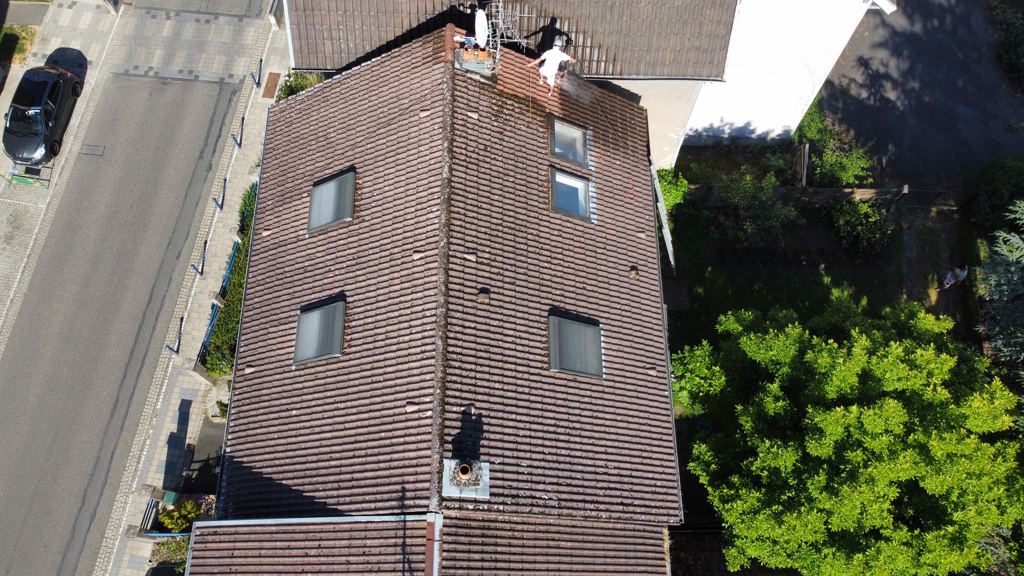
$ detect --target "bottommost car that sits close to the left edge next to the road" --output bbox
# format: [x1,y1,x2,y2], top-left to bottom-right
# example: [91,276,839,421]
[0,63,84,164]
